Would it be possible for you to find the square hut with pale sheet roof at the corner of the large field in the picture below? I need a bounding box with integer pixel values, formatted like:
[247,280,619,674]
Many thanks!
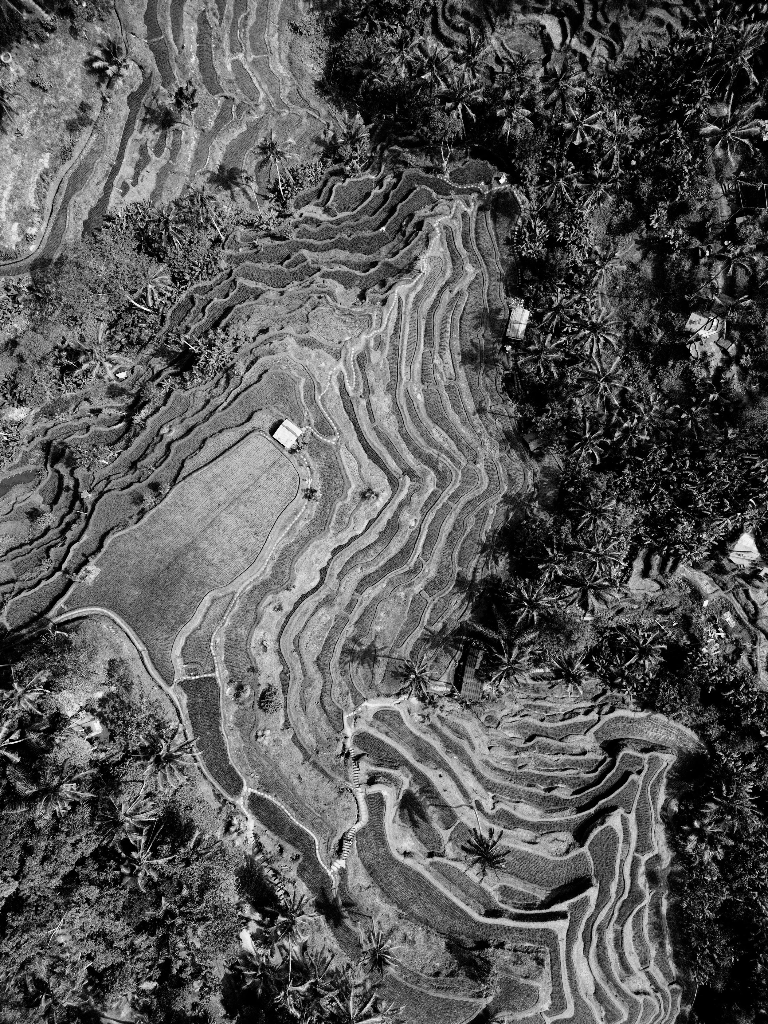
[273,419,303,448]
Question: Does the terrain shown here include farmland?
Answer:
Yes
